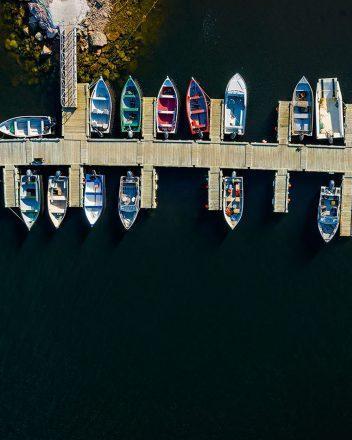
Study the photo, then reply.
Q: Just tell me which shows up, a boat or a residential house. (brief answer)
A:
boat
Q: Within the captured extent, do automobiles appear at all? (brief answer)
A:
No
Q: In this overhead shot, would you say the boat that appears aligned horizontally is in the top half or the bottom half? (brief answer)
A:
top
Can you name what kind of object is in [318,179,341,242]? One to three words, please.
boat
